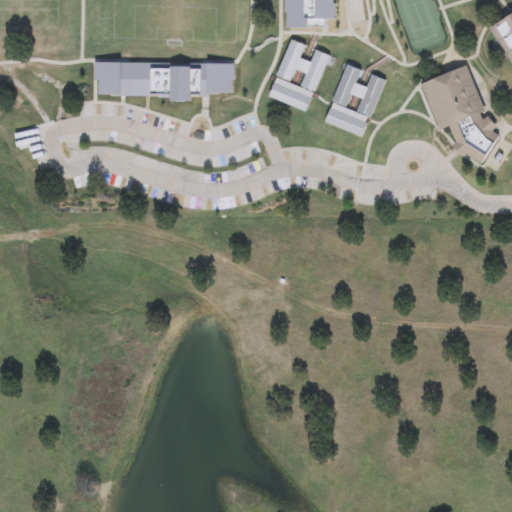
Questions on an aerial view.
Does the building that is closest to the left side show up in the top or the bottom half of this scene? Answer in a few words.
top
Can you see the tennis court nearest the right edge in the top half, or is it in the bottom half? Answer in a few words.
top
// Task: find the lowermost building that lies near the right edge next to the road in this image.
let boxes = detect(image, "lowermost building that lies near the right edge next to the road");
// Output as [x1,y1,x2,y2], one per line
[422,62,502,162]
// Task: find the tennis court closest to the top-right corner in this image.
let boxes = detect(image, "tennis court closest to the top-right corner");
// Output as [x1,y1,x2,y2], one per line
[394,0,445,53]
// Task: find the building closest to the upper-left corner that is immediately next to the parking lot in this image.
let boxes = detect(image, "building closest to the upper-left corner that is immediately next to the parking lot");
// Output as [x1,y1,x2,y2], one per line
[94,61,235,101]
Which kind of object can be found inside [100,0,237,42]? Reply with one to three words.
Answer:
soccer field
